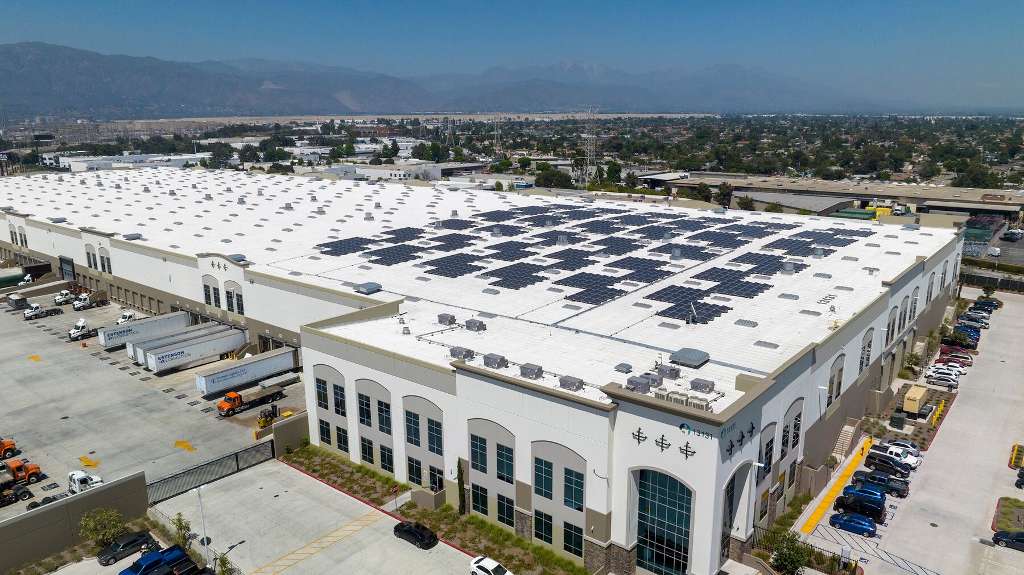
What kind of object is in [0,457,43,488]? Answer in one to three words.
truck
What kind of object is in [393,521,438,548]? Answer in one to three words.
car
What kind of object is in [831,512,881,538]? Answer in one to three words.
car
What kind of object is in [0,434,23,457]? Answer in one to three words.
truck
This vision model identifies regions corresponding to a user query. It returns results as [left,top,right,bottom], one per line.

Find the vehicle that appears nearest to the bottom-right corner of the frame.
[992,529,1024,551]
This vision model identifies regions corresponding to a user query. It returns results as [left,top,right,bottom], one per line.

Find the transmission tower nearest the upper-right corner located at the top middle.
[578,105,604,186]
